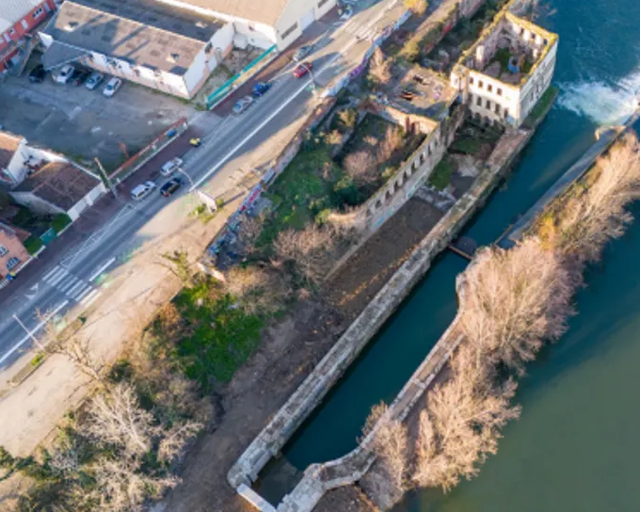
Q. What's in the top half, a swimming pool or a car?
car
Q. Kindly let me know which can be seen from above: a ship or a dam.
dam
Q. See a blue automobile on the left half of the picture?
Yes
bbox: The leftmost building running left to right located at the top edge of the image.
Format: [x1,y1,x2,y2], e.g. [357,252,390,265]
[39,0,221,96]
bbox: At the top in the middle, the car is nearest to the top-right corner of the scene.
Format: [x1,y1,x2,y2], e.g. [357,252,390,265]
[341,9,359,23]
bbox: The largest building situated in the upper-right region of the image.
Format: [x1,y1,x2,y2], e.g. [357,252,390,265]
[448,12,559,129]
